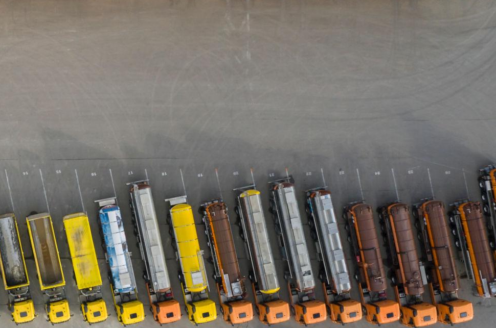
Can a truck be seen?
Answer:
Yes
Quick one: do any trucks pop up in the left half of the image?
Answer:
Yes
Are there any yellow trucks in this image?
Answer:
Yes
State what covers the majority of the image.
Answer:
paved ground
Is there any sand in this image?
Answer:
No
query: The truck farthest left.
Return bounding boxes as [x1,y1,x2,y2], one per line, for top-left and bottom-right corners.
[0,210,40,328]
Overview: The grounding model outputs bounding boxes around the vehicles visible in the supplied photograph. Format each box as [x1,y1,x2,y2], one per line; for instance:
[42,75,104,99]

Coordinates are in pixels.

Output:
[199,197,257,327]
[164,192,220,328]
[376,198,440,328]
[300,185,366,328]
[61,210,112,328]
[410,195,476,328]
[263,177,330,327]
[0,210,40,328]
[26,209,76,328]
[125,179,184,328]
[94,193,148,327]
[342,198,402,328]
[231,183,294,327]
